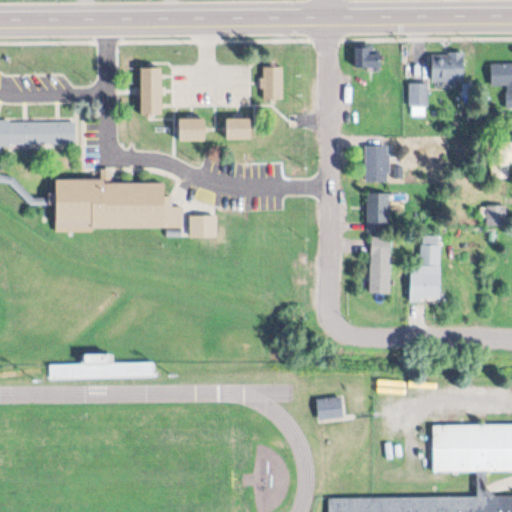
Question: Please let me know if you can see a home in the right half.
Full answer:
Yes, a home shows up in the right half.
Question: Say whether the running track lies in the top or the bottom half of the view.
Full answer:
You can find the running track in the bottom half.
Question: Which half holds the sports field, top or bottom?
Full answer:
It is in the bottom half that the sports field appears.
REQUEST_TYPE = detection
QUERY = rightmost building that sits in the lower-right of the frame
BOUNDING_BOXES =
[432,424,512,475]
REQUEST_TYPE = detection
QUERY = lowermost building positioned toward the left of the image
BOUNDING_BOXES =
[190,214,218,239]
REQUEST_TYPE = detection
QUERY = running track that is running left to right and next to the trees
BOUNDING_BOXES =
[0,386,315,512]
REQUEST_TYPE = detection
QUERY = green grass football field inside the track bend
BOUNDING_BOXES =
[0,406,241,512]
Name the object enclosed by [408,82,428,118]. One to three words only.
building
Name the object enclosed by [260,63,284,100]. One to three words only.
house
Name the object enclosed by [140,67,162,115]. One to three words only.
building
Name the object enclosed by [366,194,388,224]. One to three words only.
house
